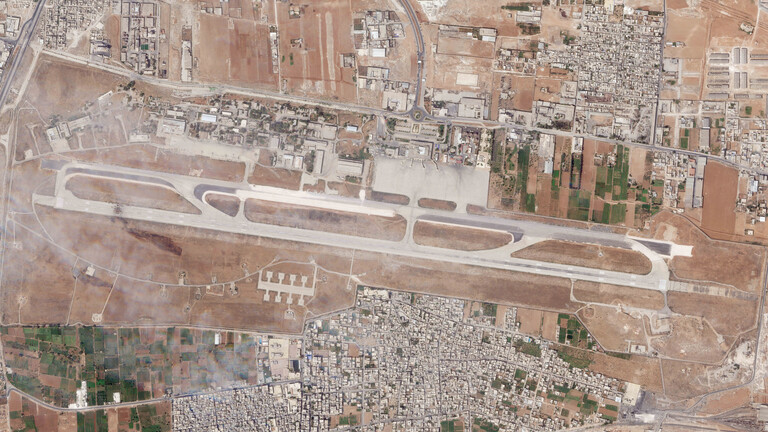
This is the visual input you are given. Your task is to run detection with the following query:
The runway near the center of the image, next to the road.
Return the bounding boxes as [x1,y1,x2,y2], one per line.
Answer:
[56,196,664,291]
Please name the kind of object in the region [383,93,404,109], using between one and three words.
building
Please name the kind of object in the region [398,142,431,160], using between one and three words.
building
